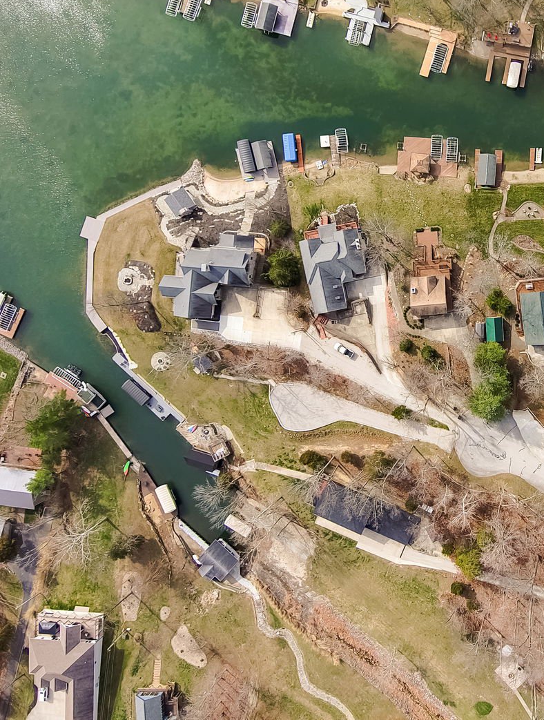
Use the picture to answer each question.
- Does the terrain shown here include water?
Yes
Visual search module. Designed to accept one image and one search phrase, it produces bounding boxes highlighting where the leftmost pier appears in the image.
[0,305,27,339]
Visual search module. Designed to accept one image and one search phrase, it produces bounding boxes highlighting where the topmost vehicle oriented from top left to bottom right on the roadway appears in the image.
[331,341,355,361]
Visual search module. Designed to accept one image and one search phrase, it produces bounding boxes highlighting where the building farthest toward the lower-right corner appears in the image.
[314,473,423,546]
